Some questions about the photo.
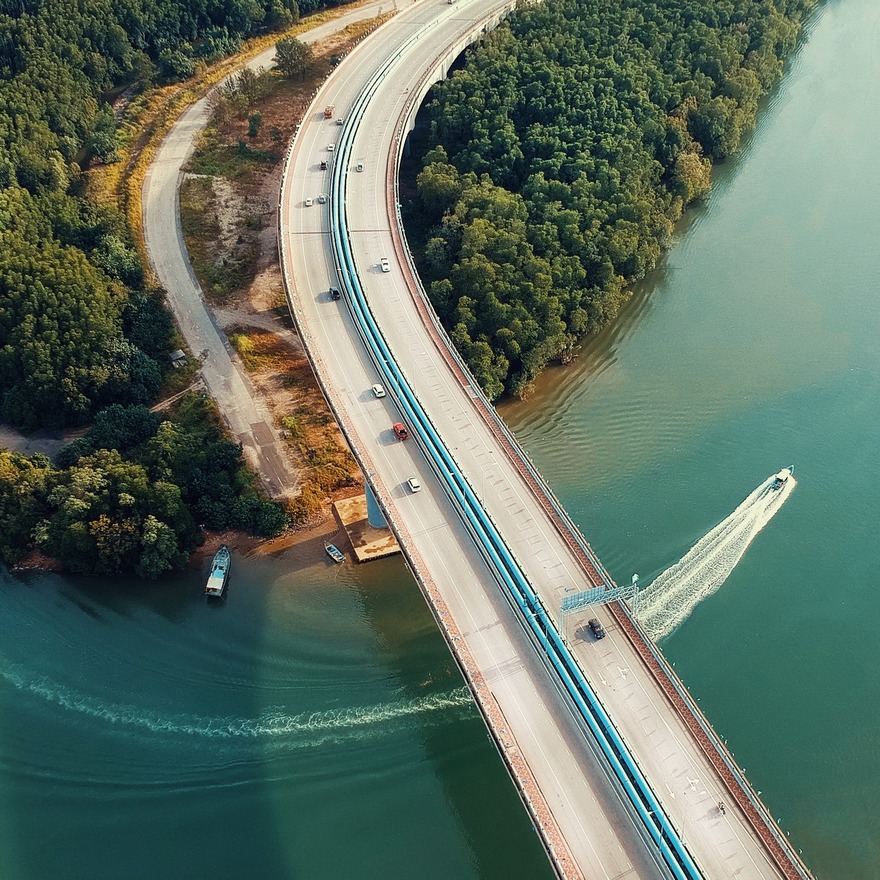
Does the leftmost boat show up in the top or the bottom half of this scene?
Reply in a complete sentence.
You can find the leftmost boat in the bottom half.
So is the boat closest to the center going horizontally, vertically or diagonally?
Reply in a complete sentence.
From this overhead view, the boat closest to the center appears to run diagonally.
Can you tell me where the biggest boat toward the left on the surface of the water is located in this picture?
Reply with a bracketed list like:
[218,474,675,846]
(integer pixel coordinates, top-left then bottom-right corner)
[208,547,229,605]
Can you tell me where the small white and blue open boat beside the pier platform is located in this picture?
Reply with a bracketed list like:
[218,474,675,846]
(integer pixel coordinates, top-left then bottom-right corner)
[321,541,367,572]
